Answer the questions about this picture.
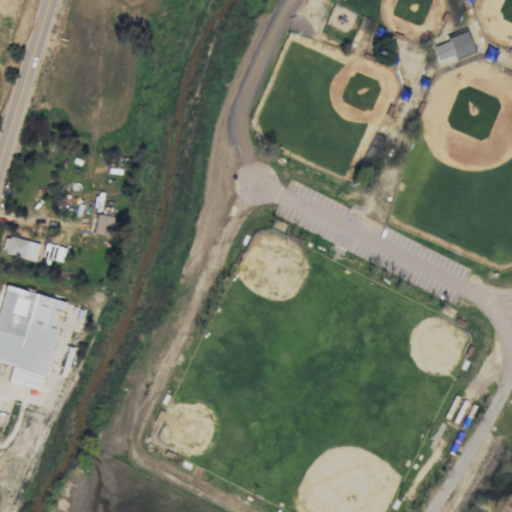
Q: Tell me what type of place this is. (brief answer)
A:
sports ground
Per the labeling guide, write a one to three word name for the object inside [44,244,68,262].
shed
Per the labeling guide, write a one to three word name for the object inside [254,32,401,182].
baseball field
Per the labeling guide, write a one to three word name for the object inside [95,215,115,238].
house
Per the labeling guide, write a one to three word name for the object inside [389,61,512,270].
baseball field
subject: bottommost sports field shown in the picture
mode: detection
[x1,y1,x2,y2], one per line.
[154,229,470,512]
